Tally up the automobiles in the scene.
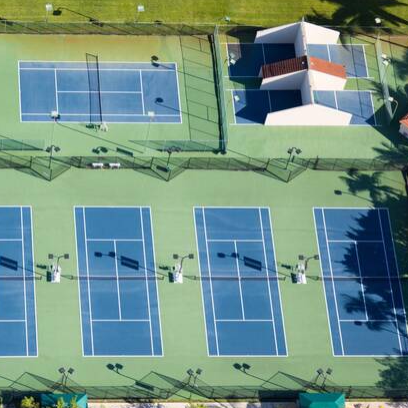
none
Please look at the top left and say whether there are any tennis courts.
Yes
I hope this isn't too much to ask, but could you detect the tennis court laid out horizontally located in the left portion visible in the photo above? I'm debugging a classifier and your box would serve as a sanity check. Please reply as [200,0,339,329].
[17,61,184,123]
